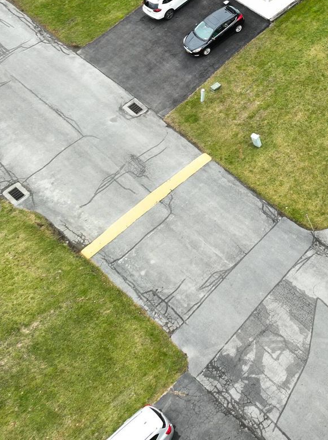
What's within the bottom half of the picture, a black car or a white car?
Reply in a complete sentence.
There is a white car within the bottom half of the picture.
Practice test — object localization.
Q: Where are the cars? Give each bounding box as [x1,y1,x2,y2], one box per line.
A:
[106,407,177,440]
[185,4,245,57]
[143,0,192,20]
